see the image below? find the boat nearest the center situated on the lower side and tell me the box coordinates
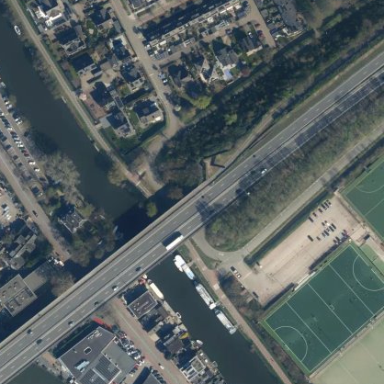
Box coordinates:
[172,254,195,282]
